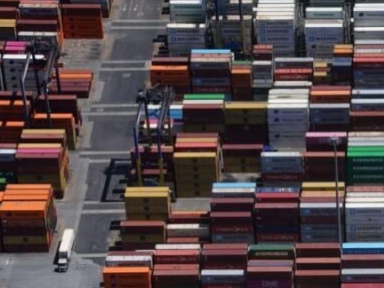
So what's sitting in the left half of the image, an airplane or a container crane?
container crane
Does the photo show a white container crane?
No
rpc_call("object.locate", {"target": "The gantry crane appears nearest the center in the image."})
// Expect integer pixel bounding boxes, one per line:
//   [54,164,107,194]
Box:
[126,81,176,202]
